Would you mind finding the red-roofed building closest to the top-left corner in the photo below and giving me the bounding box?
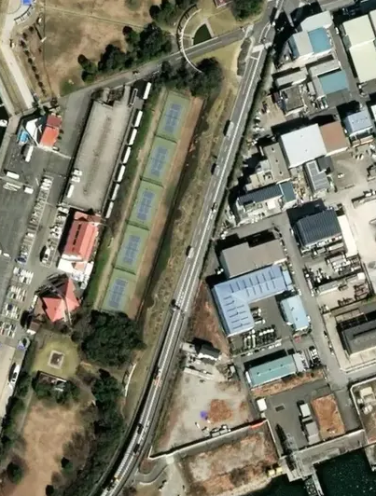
[38,114,62,149]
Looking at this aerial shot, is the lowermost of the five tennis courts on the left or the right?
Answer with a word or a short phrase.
left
